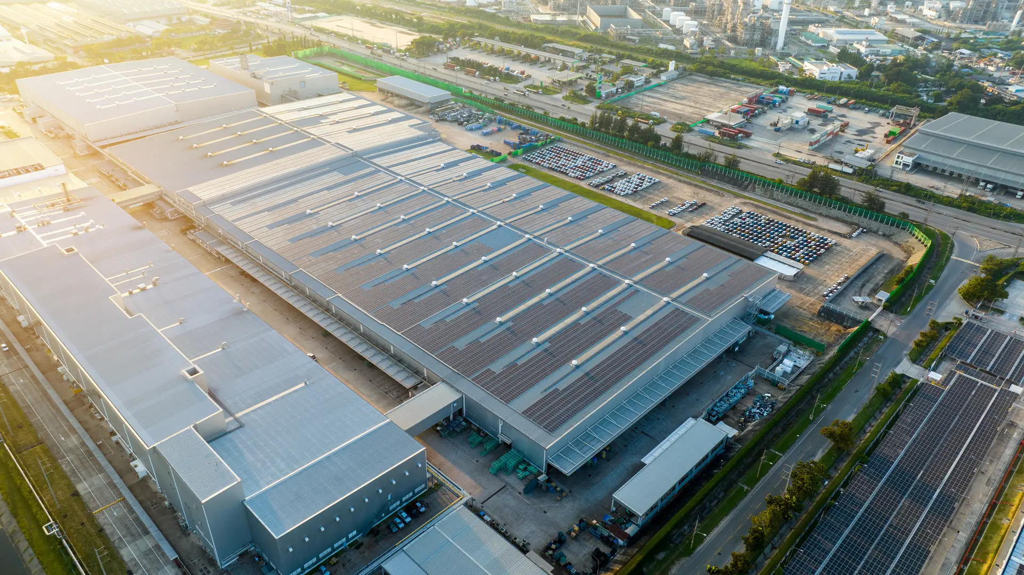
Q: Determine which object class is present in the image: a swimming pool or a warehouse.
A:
warehouse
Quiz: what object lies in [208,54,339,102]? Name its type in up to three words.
building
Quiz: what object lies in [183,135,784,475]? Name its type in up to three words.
warehouse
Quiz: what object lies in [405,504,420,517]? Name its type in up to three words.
vehicle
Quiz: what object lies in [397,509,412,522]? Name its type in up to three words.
vehicle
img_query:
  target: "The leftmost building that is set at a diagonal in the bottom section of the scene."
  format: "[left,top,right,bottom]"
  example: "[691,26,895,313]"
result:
[0,182,428,575]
